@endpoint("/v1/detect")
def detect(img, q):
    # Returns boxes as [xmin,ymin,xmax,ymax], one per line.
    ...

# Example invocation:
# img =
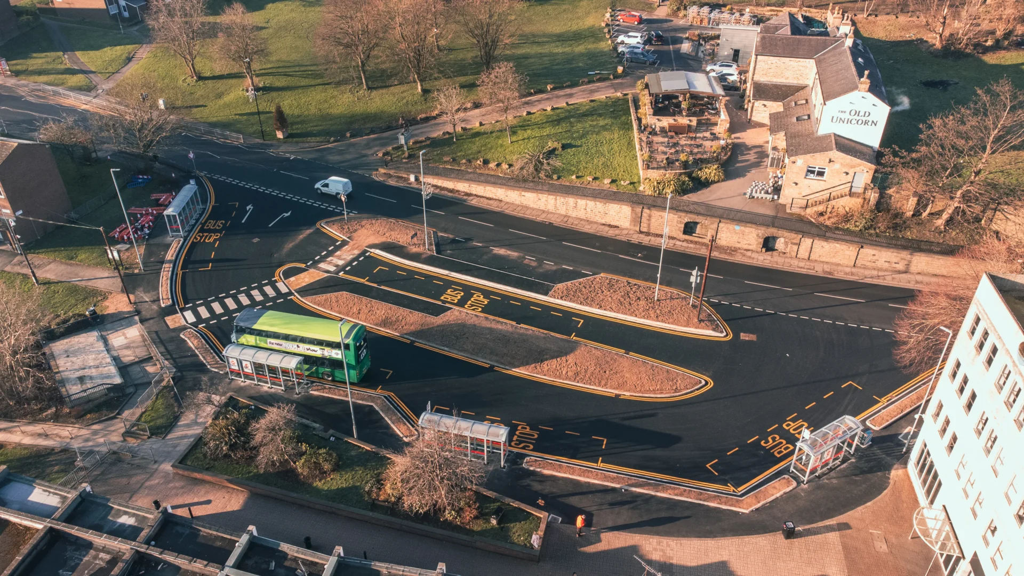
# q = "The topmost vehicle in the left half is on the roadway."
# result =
[313,177,356,202]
